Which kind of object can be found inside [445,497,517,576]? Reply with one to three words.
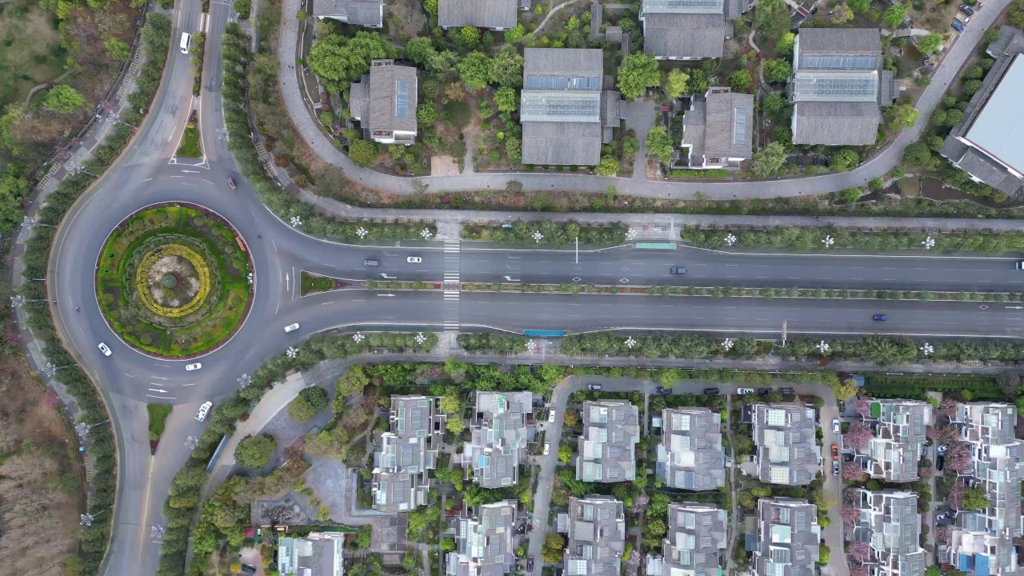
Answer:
house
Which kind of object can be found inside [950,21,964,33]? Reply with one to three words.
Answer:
vehicle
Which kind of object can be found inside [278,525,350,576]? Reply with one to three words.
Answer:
house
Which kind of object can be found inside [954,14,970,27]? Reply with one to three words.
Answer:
vehicle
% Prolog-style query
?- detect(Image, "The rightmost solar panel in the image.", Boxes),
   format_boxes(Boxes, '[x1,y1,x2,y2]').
[803,54,880,67]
